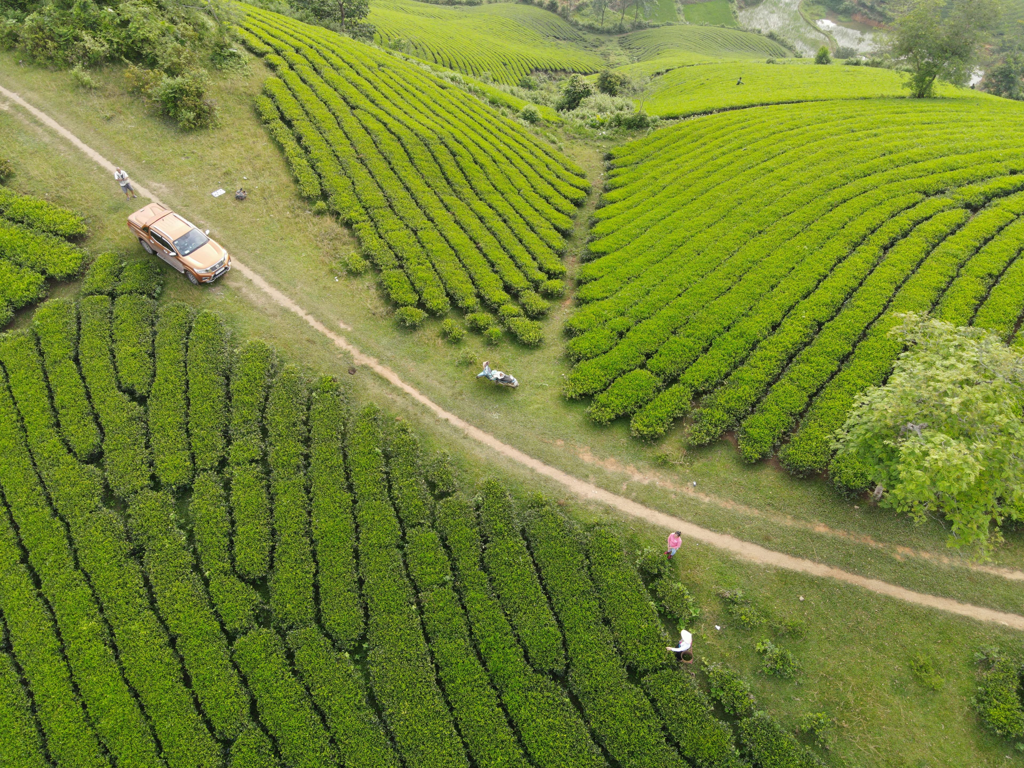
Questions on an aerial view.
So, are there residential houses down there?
No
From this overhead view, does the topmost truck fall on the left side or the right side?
left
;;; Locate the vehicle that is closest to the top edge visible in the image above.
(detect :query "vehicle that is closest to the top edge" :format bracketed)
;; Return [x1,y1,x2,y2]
[127,207,234,285]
